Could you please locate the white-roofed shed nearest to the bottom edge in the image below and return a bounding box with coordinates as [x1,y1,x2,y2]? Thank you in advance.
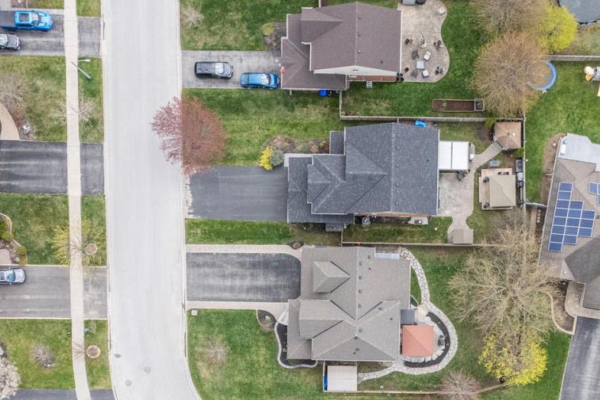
[326,364,357,392]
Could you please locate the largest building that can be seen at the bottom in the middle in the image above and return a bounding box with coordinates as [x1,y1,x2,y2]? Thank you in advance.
[287,246,411,361]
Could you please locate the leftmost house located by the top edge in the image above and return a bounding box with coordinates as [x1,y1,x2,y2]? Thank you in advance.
[281,1,402,92]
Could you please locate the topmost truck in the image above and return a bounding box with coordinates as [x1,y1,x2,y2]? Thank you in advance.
[0,10,54,32]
